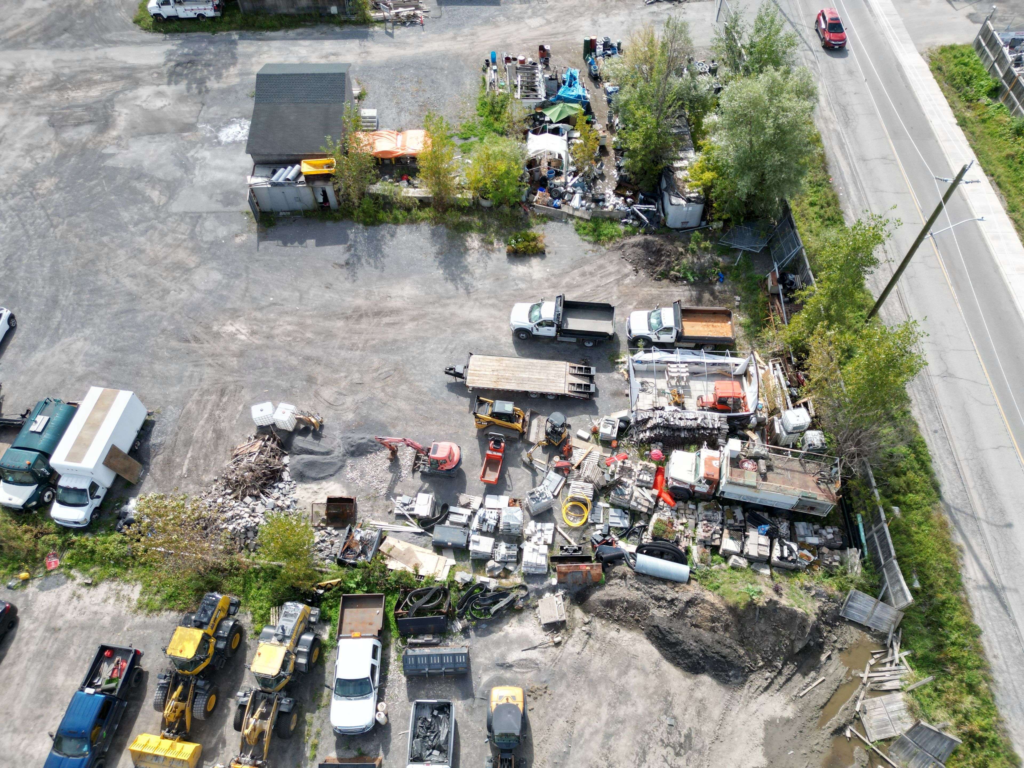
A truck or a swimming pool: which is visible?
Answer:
truck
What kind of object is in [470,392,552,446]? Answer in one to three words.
work vehicle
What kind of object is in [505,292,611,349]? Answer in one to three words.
truck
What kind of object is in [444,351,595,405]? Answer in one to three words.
trailer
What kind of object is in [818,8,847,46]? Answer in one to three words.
car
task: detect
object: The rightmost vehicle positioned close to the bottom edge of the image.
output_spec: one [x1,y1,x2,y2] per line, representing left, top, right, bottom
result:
[484,695,533,768]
